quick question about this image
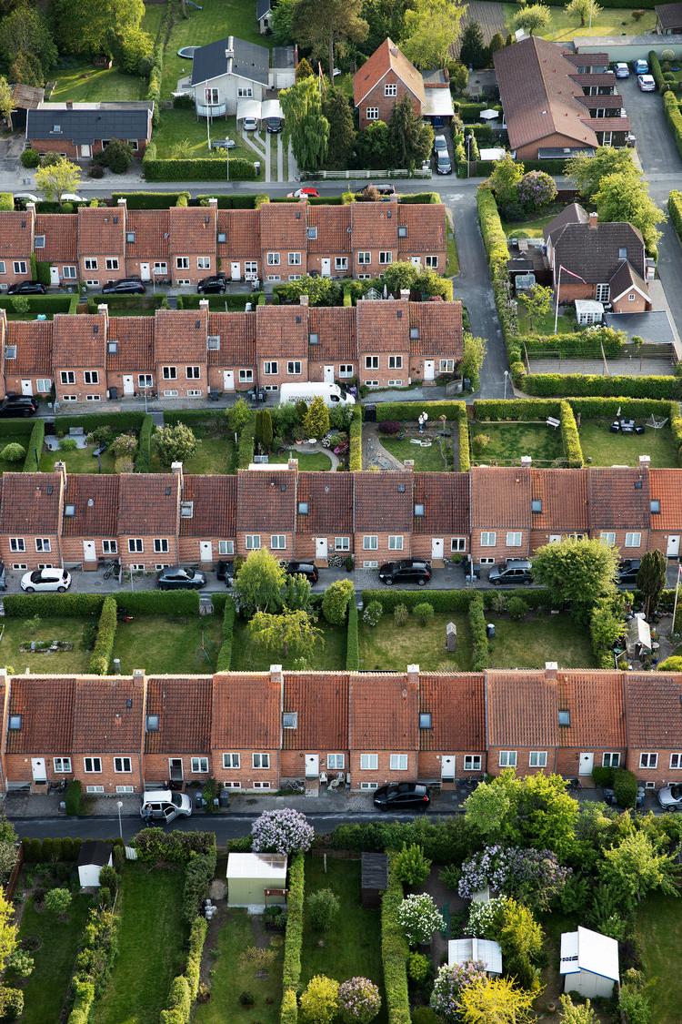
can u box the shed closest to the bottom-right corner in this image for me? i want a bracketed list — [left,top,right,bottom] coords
[551,920,617,993]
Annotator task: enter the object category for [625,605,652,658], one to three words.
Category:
greenhouse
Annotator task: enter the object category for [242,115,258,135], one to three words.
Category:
car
